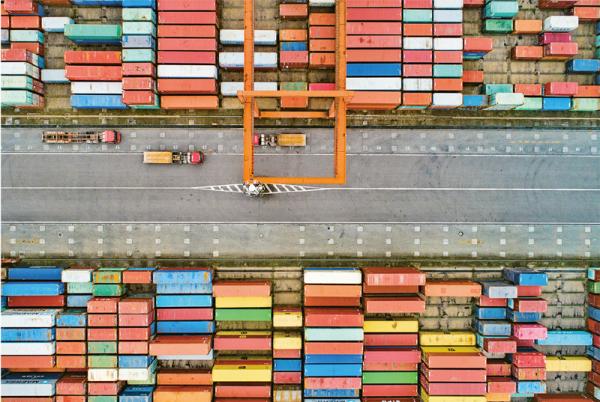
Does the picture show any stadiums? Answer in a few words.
No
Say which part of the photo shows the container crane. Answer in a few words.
top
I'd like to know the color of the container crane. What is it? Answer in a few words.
orange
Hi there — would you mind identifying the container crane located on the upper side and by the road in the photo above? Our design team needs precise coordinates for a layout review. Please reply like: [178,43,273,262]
[238,0,354,184]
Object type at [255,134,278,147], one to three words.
vehicle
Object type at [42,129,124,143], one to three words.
vehicle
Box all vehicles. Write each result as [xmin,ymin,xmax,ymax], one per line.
[255,134,278,147]
[42,129,124,143]
[175,151,207,165]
